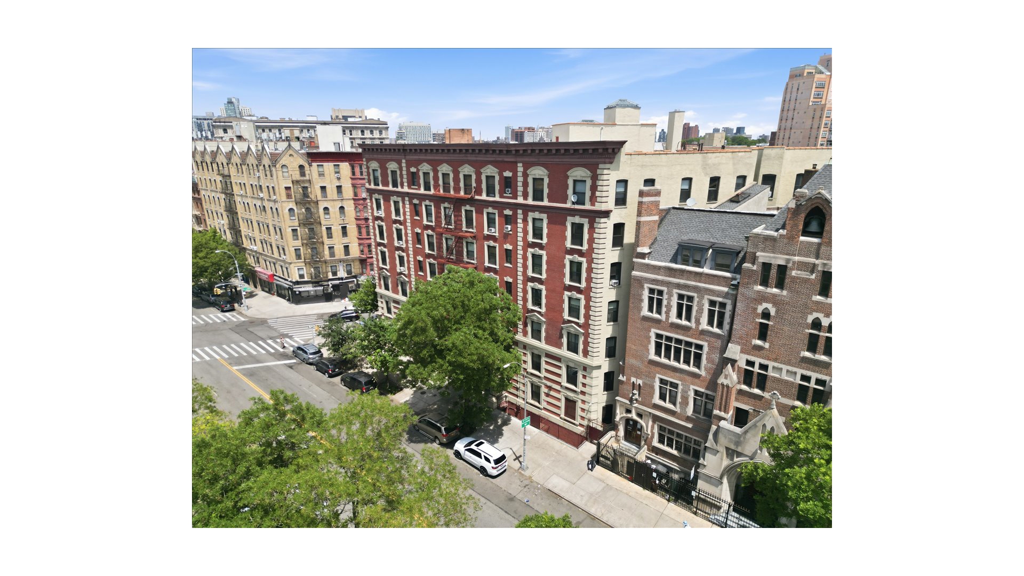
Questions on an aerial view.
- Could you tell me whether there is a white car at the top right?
No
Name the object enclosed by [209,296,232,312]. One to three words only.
car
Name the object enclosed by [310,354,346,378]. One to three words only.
car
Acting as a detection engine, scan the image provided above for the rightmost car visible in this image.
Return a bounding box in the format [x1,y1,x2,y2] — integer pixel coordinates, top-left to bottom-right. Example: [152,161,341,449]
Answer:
[451,435,510,477]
